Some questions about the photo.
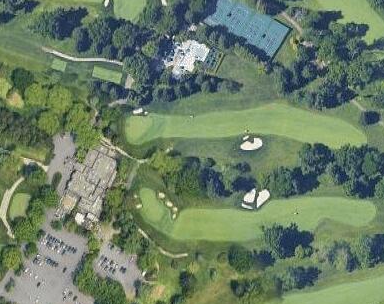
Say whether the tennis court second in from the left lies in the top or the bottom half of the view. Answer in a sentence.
The tennis court second in from the left is in the top half of the image.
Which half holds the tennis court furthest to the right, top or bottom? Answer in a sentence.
You can find the tennis court furthest to the right in the top half.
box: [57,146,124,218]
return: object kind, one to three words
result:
building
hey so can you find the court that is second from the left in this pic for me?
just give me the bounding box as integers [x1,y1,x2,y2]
[224,2,257,44]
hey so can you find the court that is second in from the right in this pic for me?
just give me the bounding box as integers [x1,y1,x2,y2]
[242,11,274,52]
